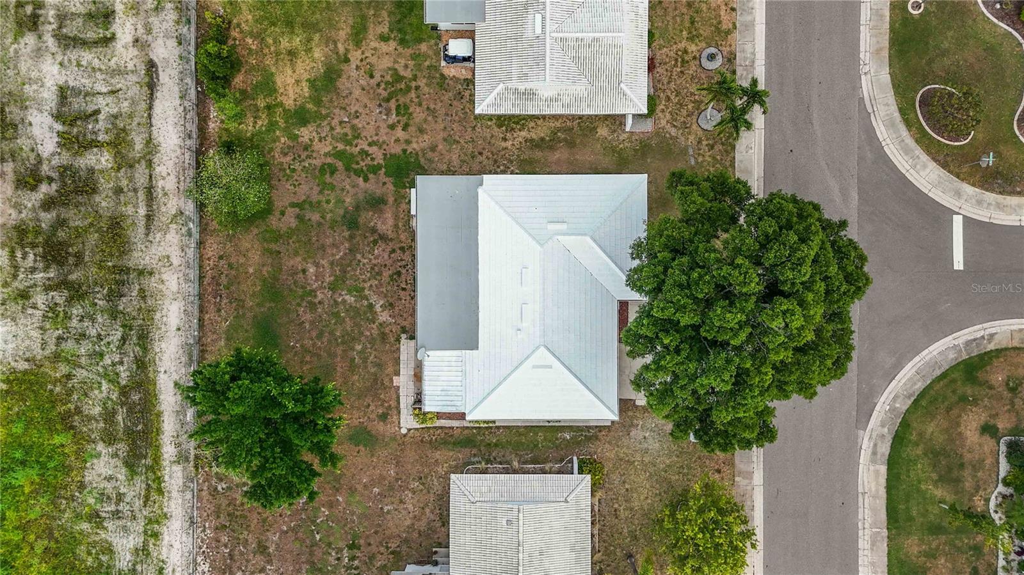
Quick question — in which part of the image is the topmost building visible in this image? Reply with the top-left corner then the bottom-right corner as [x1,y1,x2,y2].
[424,0,649,115]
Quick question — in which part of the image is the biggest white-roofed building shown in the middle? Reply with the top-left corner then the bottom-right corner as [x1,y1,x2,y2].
[414,173,649,422]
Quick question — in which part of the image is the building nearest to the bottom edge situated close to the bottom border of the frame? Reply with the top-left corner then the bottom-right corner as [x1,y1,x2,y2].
[392,473,592,575]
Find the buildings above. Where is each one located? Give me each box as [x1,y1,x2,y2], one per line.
[392,473,592,575]
[414,173,649,422]
[424,0,649,115]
